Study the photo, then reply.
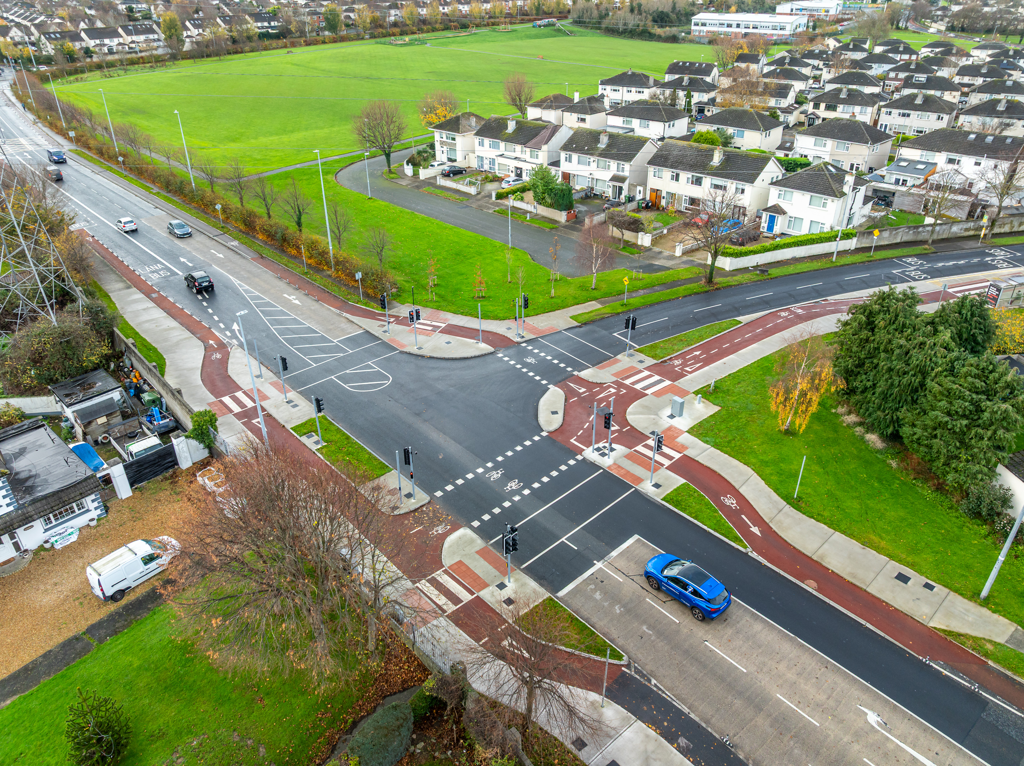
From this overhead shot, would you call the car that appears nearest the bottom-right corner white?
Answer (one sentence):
No, the car that appears nearest the bottom-right corner is blue.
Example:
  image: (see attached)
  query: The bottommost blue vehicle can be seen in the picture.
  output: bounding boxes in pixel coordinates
[644,556,736,624]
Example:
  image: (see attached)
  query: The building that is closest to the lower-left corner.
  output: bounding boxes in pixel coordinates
[0,410,97,563]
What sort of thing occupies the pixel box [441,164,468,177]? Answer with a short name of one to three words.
vehicle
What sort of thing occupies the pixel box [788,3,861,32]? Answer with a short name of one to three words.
building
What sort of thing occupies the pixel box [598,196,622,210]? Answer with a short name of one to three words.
car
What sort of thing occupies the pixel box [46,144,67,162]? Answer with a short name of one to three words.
vehicle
